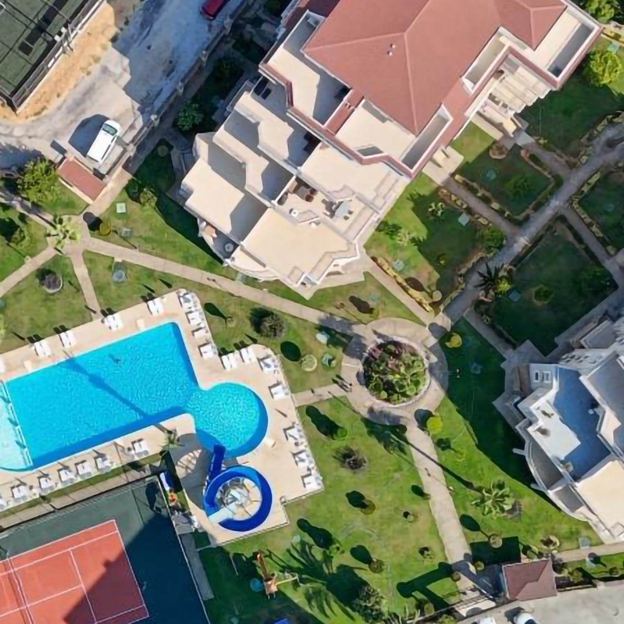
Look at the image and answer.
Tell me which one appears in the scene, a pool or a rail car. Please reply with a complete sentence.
The one in the frame is a pool.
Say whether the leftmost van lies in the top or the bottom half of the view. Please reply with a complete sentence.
The leftmost van is in the top half of the image.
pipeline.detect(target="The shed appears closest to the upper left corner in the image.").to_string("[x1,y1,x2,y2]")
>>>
[57,158,108,207]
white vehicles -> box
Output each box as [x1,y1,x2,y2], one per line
[478,614,498,624]
[512,608,538,624]
[85,118,120,164]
